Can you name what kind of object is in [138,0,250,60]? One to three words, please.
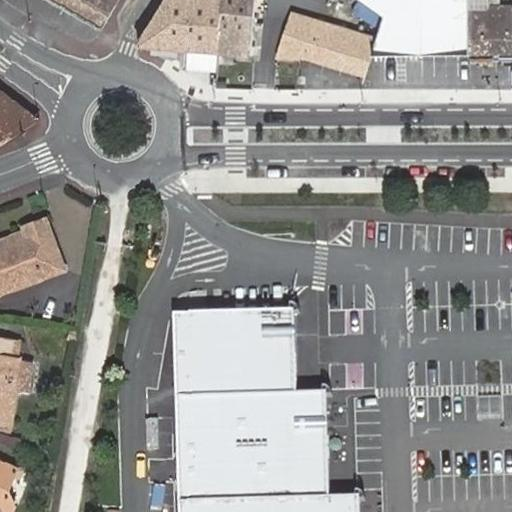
house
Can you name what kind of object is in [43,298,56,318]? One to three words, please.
vehicle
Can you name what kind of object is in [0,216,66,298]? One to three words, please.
house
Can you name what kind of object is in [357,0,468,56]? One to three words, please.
building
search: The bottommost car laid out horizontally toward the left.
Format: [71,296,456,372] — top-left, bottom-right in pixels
[180,290,208,302]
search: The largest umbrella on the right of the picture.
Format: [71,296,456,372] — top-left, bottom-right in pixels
[329,437,342,451]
